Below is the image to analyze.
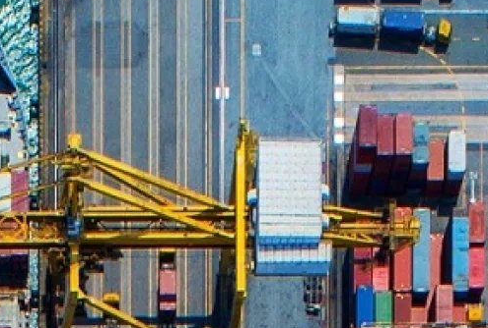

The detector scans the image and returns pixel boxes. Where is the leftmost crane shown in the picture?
[0,117,422,328]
